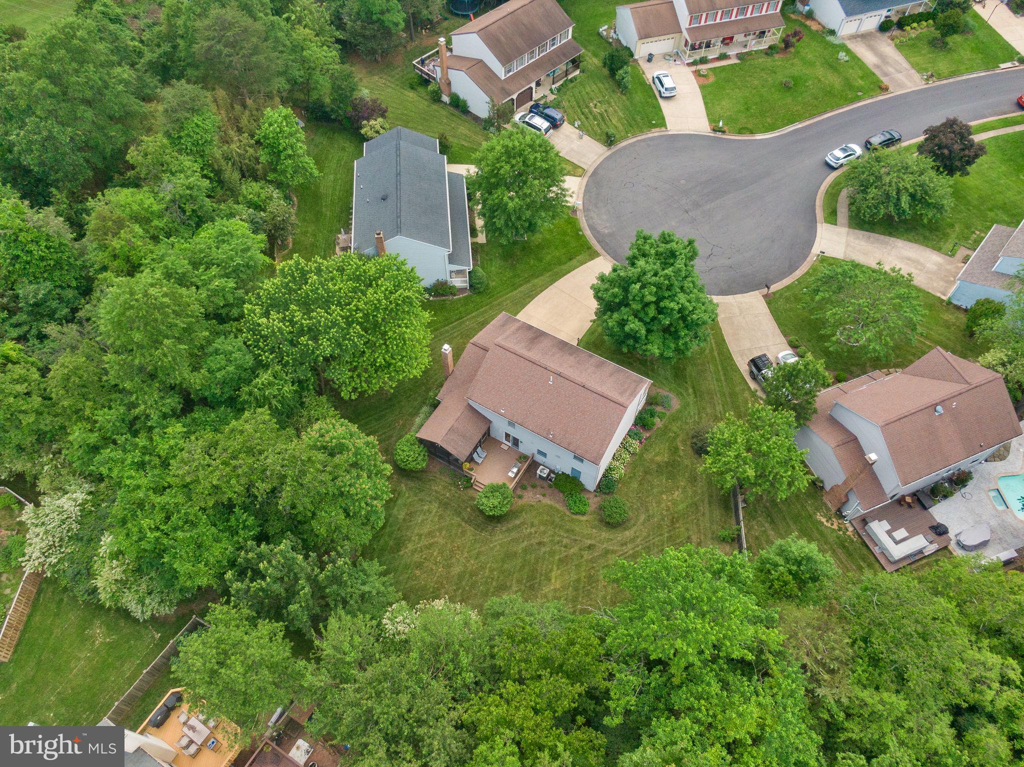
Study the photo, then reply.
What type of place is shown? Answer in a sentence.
This looks like a residential area.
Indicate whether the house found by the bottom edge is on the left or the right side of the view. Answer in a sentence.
It is on the left.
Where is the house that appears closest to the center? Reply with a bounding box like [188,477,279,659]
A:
[416,311,654,495]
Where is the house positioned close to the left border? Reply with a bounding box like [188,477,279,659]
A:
[42,714,172,767]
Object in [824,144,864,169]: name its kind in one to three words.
car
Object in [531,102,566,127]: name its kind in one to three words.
car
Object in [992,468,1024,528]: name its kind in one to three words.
swimming pool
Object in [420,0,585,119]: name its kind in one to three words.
house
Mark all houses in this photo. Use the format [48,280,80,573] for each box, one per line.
[416,311,654,495]
[617,0,787,60]
[804,0,934,35]
[946,218,1024,335]
[345,124,473,293]
[42,714,172,767]
[420,0,585,119]
[784,340,1024,574]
